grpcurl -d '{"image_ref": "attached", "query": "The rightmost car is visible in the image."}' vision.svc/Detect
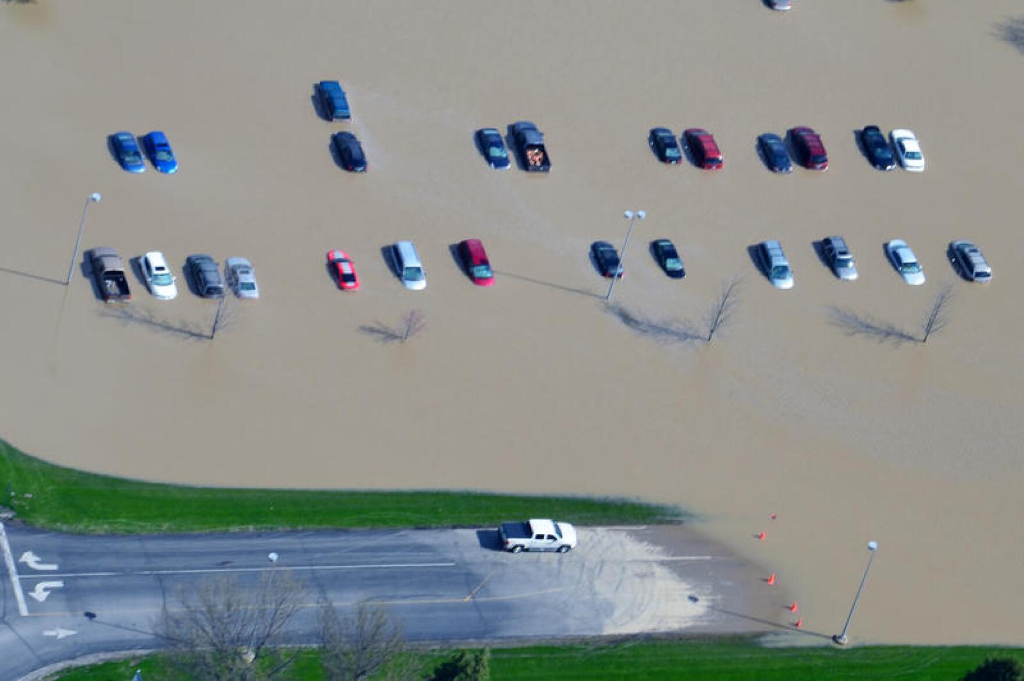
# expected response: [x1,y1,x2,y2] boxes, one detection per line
[955,242,992,283]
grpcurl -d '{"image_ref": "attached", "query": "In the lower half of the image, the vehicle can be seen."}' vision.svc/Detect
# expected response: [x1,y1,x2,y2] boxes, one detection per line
[500,520,578,553]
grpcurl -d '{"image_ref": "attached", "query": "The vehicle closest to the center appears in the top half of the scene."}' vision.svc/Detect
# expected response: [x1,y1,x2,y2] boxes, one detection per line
[461,237,497,286]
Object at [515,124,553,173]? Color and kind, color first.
blue truck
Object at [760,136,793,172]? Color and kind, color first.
blue car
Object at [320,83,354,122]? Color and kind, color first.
blue car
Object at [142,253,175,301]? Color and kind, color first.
white car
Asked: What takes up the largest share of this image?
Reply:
water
